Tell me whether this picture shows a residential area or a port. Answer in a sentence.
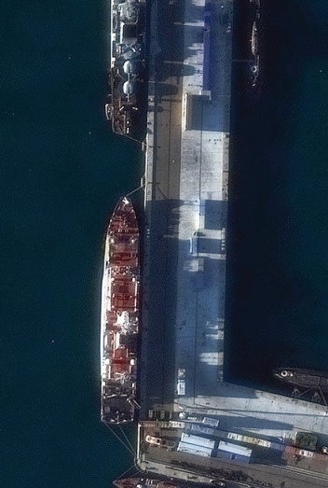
The area seen from above is a port.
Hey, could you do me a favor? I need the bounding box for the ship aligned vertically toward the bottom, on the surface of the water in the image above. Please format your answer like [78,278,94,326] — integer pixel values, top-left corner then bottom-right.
[101,197,140,423]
